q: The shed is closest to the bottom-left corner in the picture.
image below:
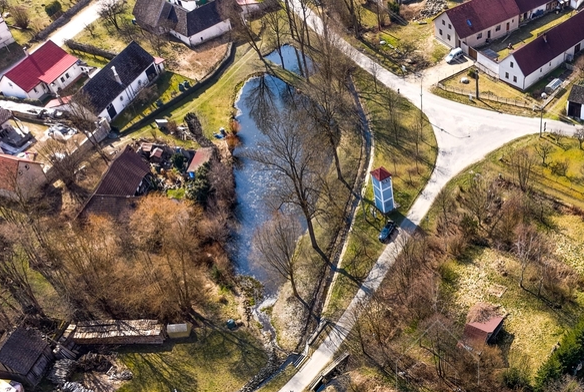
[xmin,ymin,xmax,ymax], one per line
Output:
[0,325,55,383]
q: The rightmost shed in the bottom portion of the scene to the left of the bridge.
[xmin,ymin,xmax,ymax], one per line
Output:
[167,322,191,339]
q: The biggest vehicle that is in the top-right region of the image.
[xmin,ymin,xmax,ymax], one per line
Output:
[444,43,464,59]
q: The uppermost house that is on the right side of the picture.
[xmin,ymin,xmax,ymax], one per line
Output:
[431,0,519,49]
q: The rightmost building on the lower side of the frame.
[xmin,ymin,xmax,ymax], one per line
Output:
[464,303,503,351]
